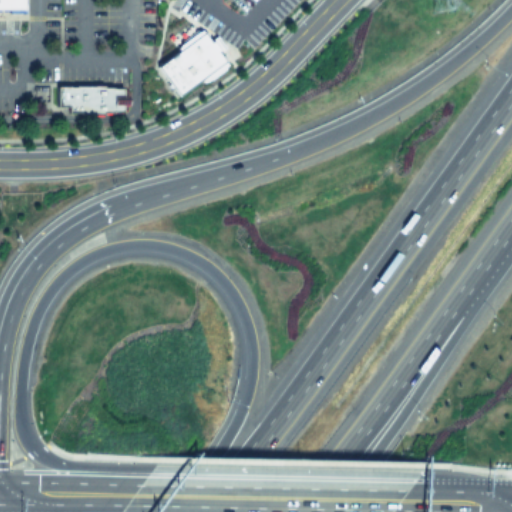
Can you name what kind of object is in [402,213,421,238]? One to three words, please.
vehicle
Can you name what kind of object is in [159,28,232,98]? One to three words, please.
building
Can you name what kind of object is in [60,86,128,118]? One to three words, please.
building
